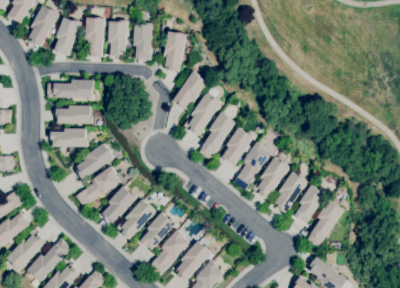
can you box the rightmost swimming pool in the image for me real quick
[185,223,204,238]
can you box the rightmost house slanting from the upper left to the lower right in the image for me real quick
[309,258,354,288]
